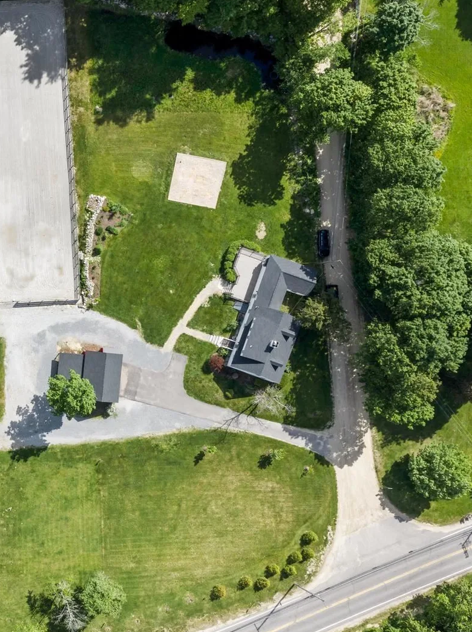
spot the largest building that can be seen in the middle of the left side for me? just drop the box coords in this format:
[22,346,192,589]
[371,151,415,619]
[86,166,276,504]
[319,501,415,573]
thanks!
[81,346,123,403]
